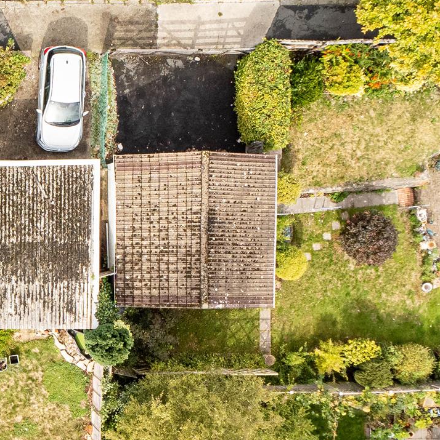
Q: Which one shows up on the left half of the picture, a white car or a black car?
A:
white car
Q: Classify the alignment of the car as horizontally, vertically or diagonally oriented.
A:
vertically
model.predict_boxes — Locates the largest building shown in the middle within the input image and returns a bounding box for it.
[99,151,279,310]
